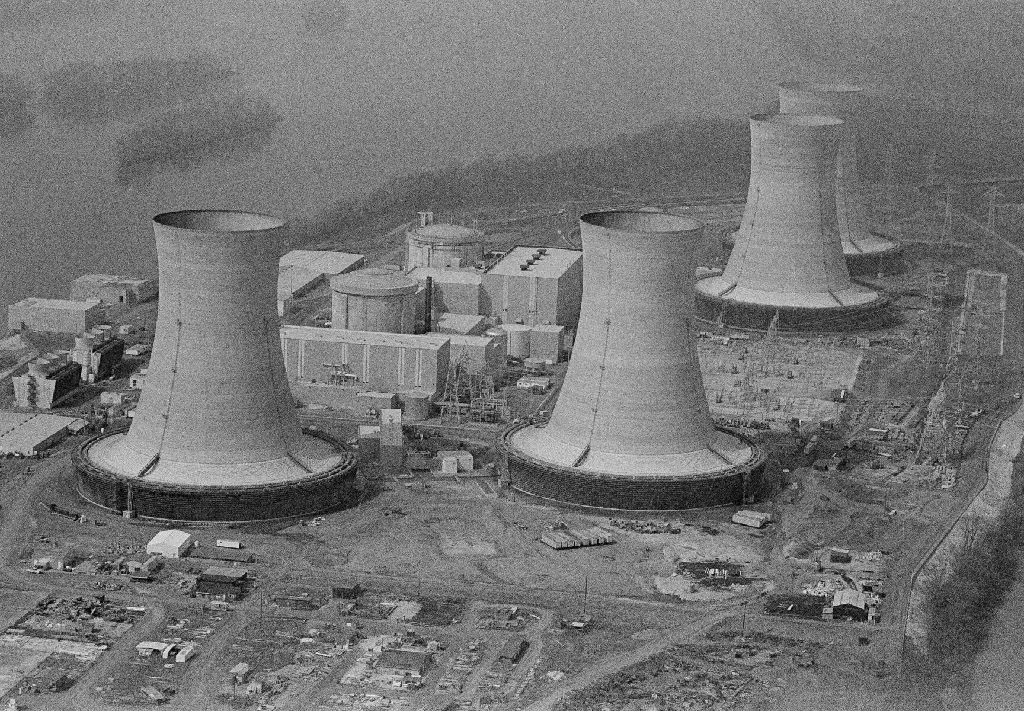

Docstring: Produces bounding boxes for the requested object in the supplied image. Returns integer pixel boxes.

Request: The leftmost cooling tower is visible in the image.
[13,354,78,411]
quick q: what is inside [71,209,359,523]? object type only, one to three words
cooling tower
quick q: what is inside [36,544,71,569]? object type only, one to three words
shed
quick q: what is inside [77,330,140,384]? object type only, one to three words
cooling tower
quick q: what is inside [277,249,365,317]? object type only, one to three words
building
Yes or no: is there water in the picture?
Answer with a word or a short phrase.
Yes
